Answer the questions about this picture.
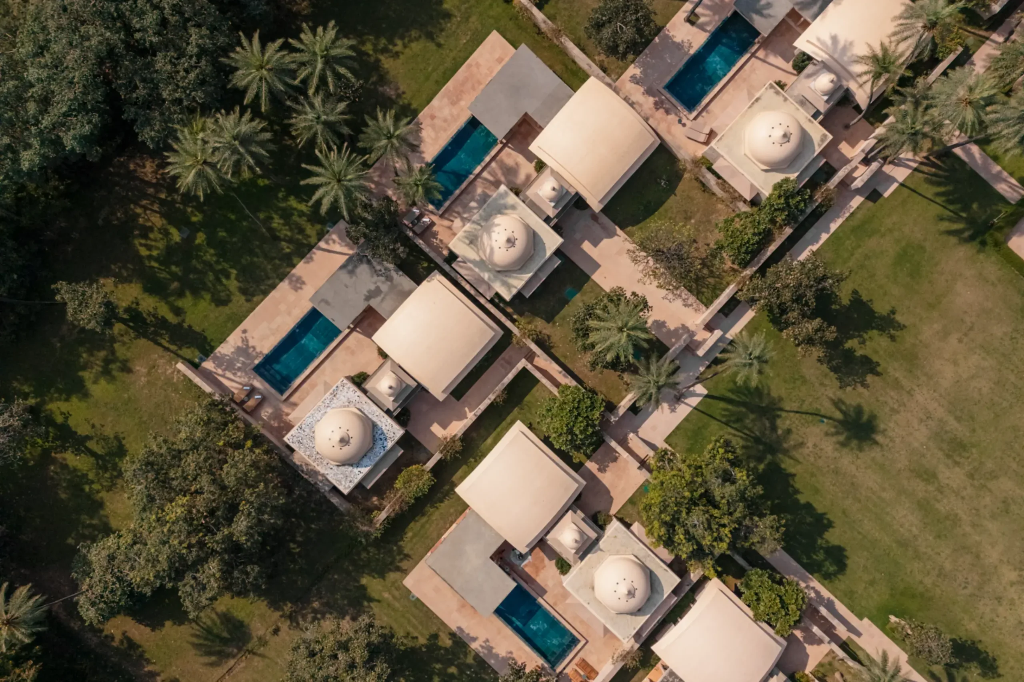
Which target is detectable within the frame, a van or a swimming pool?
swimming pool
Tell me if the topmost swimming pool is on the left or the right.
right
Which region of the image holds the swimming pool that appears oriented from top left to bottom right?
bottom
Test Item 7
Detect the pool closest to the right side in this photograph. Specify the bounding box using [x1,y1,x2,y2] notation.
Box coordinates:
[659,4,787,122]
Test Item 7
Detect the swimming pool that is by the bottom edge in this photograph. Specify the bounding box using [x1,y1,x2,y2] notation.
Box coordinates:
[488,565,586,674]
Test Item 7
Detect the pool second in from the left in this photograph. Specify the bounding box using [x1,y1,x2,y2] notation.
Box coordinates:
[406,115,521,217]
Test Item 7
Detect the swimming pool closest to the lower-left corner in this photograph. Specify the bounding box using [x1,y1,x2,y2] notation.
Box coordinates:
[248,304,366,405]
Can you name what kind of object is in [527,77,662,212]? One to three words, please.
house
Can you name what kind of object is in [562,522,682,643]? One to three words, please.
building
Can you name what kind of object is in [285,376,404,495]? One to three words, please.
building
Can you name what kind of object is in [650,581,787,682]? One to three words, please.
house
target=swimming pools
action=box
[488,565,586,674]
[406,115,521,217]
[248,304,366,405]
[659,4,787,122]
